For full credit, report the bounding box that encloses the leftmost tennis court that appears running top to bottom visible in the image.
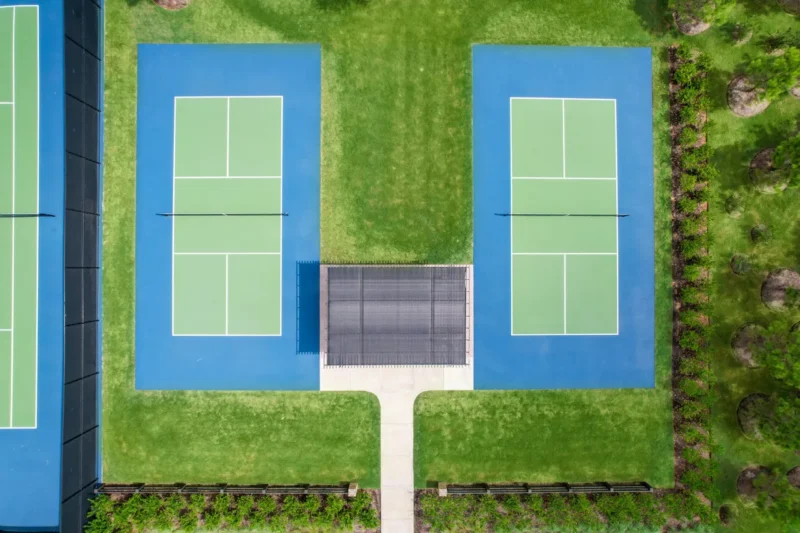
[0,0,104,532]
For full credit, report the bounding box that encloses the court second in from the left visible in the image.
[134,42,321,391]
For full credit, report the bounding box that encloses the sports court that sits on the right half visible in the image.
[472,45,655,389]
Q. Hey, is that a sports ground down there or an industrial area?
sports ground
